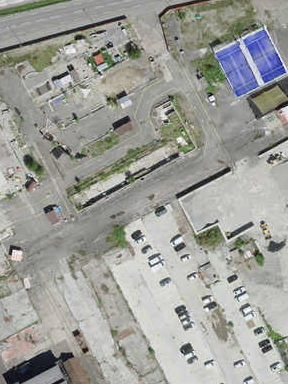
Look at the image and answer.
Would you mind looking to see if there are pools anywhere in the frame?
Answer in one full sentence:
No, this view has no pool in it.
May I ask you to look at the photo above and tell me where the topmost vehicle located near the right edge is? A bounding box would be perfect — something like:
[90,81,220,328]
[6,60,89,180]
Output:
[268,152,286,166]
